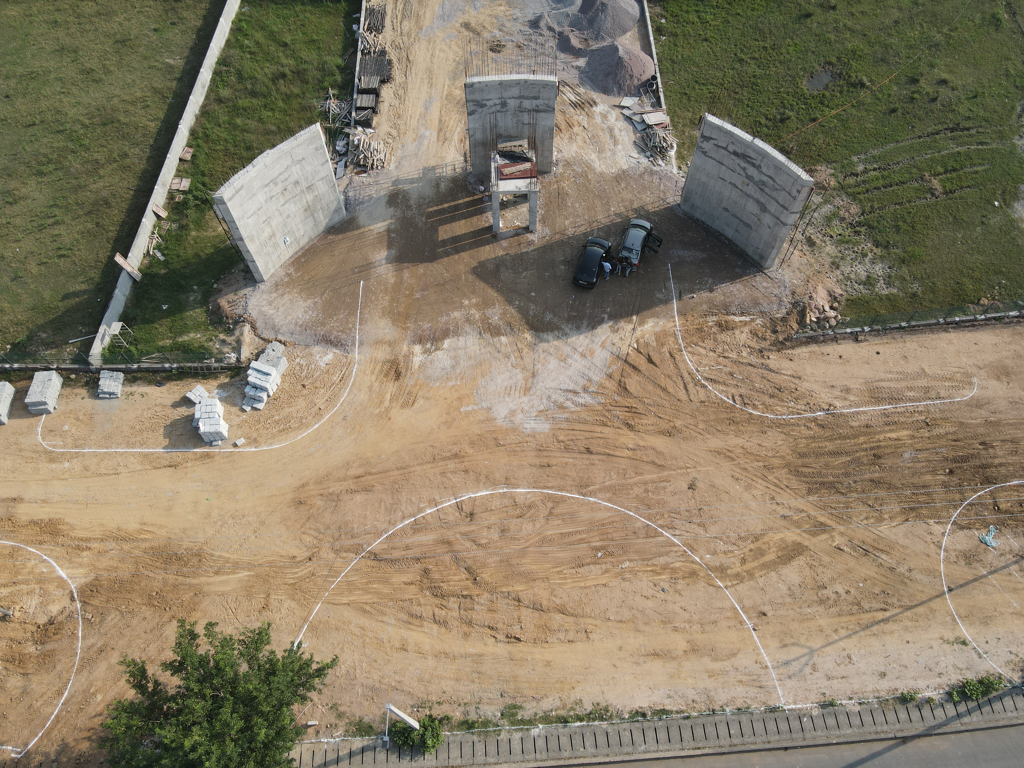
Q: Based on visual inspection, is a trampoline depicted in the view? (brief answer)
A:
No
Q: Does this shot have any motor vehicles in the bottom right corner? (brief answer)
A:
No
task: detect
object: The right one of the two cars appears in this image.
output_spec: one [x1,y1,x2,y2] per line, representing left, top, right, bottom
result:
[618,217,665,272]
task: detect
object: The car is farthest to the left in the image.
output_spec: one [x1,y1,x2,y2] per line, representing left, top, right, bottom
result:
[571,234,618,290]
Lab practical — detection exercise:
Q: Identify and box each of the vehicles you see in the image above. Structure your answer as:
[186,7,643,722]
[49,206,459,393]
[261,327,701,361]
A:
[571,234,618,290]
[618,217,665,272]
